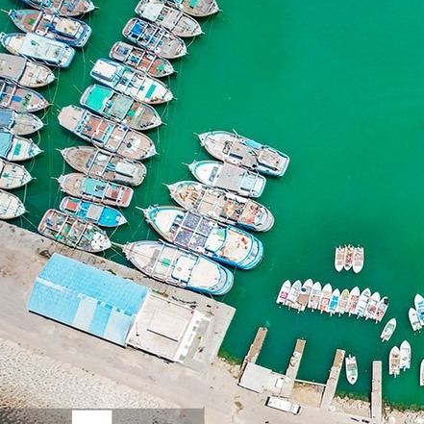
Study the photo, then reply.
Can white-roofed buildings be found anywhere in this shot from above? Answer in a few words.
Yes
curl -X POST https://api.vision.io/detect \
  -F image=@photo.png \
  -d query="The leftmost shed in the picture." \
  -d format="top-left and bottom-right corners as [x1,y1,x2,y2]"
[29,254,151,346]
